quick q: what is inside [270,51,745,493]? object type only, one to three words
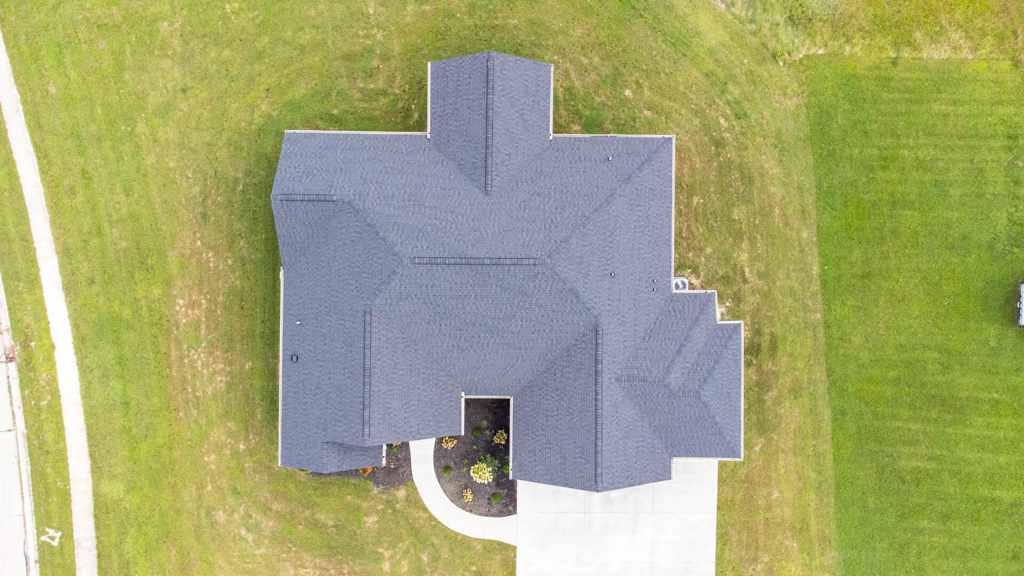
house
